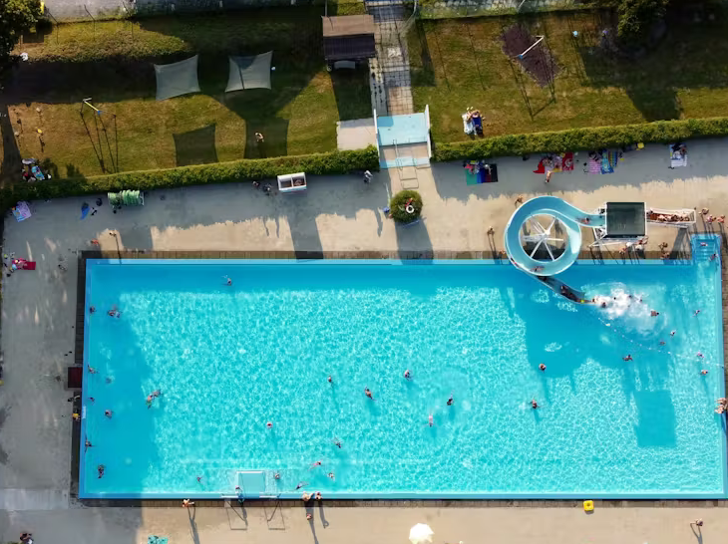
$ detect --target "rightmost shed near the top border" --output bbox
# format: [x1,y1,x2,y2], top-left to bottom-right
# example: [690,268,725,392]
[320,14,374,62]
